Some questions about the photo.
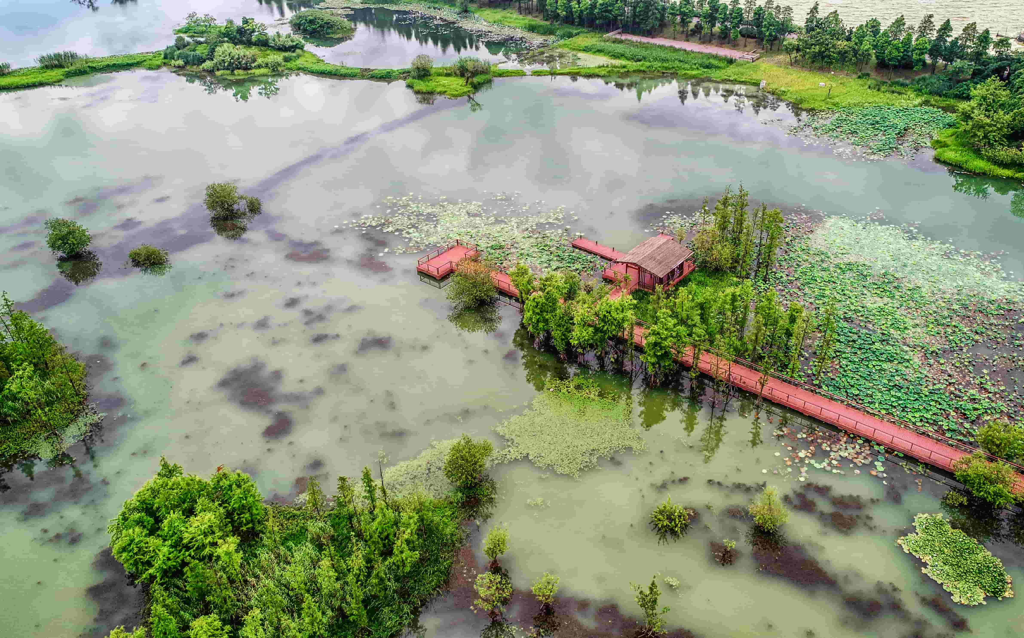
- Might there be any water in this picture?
Yes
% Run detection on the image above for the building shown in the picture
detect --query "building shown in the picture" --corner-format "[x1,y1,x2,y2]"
[602,236,698,293]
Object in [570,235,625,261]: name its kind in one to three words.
pier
